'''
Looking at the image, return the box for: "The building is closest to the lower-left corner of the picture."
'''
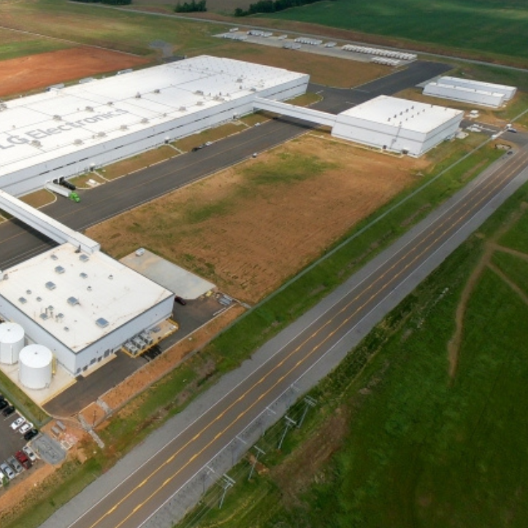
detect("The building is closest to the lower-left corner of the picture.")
[0,241,176,375]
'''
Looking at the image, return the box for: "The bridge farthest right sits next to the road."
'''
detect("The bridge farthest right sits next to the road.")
[246,97,338,125]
